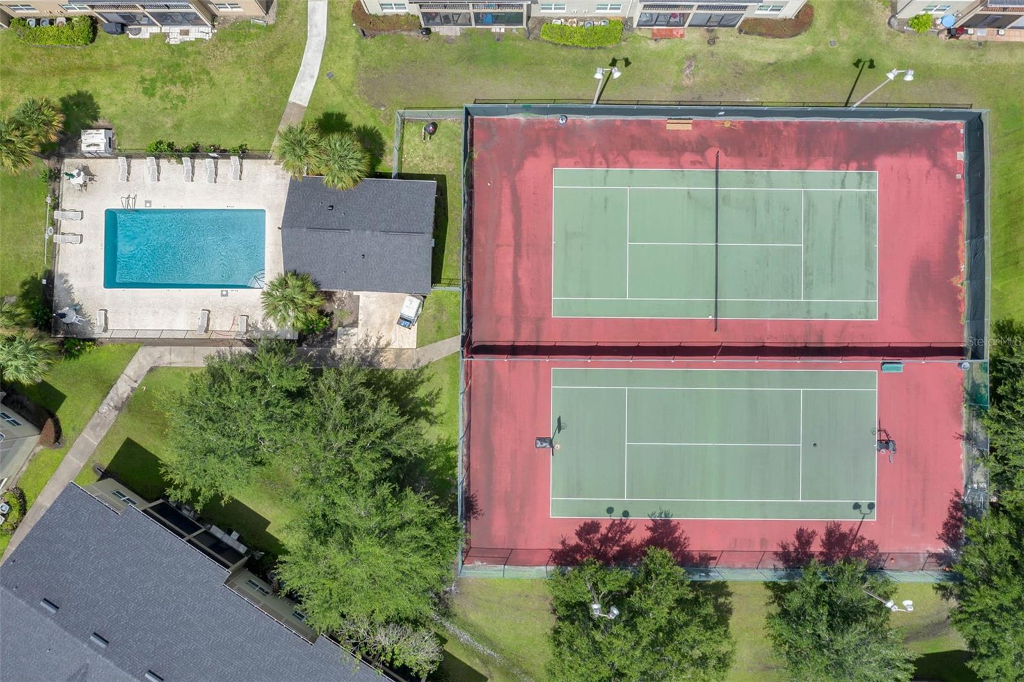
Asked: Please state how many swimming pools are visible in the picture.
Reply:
1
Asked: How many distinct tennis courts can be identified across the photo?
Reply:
2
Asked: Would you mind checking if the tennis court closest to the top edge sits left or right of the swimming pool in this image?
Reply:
right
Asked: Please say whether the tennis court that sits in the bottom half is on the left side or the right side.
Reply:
right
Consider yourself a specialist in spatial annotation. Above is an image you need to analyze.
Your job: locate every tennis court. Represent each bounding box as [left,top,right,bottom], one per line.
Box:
[470,120,964,360]
[468,359,964,569]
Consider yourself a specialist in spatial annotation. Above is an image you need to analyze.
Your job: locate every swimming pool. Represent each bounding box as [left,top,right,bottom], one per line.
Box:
[97,200,267,297]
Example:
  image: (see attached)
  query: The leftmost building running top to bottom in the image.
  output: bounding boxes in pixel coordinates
[0,391,42,484]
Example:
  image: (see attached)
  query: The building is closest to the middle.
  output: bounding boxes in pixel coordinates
[275,176,436,295]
